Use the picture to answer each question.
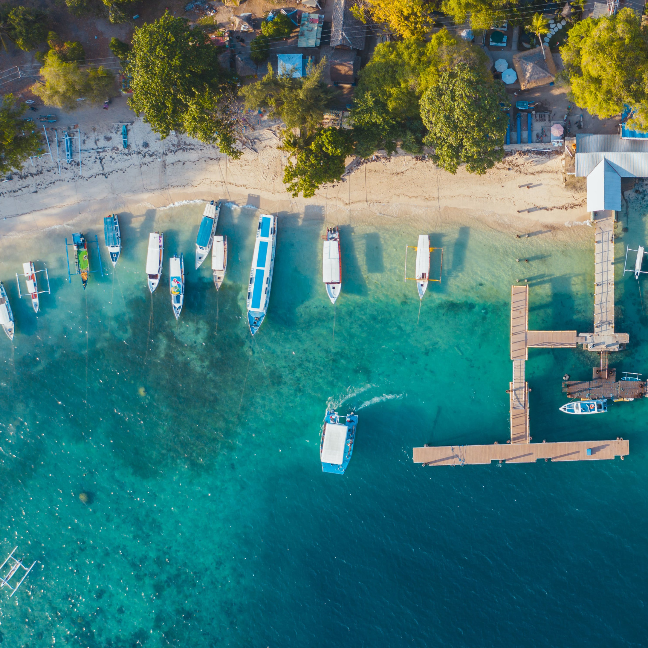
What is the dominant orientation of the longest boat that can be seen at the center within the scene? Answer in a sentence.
The longest boat that can be seen at the center runs up and down in the image.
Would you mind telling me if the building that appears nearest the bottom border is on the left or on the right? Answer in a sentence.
The building that appears nearest the bottom border sits on the right side.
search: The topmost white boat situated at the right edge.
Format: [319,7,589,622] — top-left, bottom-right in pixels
[623,246,648,284]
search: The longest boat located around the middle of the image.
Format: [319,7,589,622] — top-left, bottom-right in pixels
[243,214,280,396]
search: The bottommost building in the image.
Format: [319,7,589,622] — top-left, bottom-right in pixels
[575,133,648,224]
